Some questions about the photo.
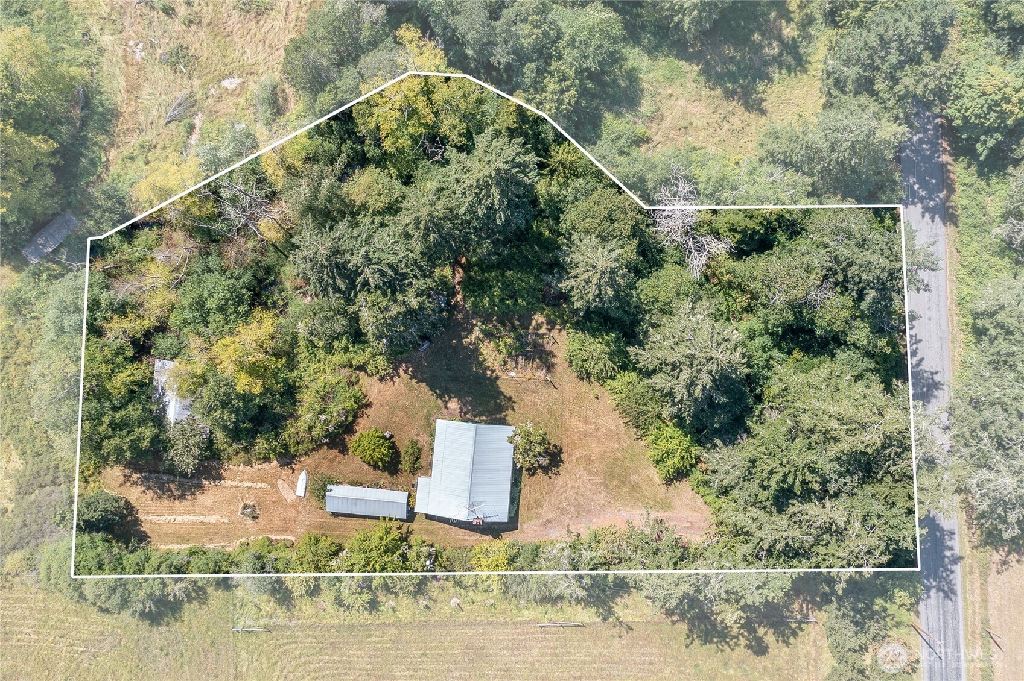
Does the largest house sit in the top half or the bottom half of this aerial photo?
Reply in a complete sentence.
Seen from above, the largest house lies in the bottom half of the view.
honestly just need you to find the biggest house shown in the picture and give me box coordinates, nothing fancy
[414,419,516,529]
